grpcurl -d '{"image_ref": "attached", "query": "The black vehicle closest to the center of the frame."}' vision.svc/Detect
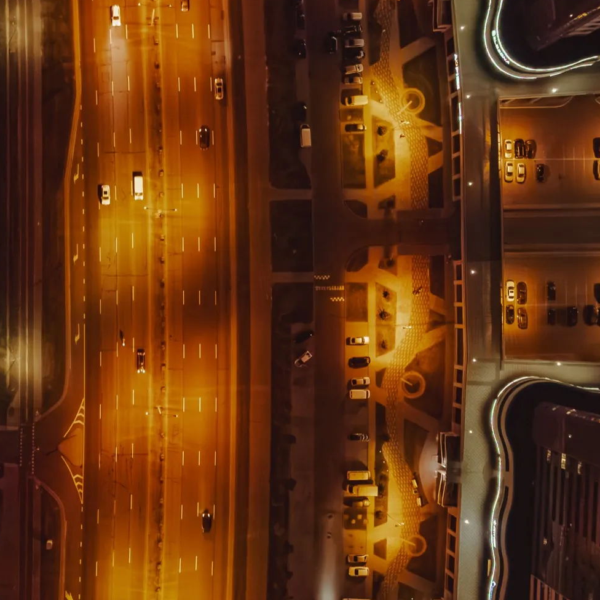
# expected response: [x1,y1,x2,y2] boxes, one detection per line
[292,329,314,343]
